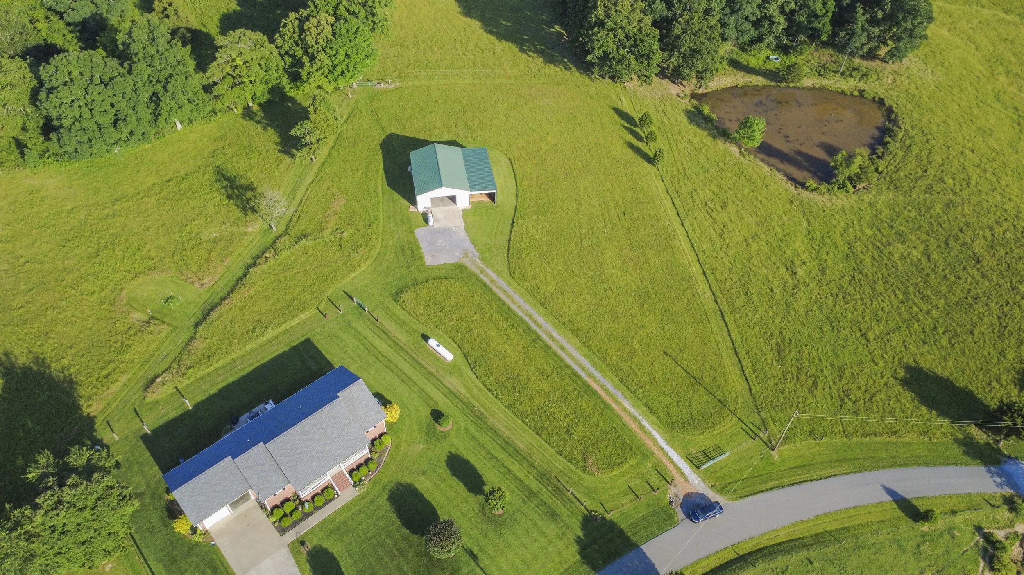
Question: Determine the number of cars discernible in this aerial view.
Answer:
1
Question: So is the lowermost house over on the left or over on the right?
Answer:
left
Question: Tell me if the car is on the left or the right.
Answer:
right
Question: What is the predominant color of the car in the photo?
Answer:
blue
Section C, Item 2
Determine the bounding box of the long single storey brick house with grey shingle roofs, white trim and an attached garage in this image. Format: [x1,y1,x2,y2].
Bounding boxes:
[163,365,386,533]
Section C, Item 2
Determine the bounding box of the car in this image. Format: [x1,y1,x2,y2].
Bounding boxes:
[689,498,725,521]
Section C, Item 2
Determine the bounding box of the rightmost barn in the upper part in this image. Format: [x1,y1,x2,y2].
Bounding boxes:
[411,141,497,210]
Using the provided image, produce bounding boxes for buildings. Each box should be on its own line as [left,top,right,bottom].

[411,141,497,210]
[163,365,386,533]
